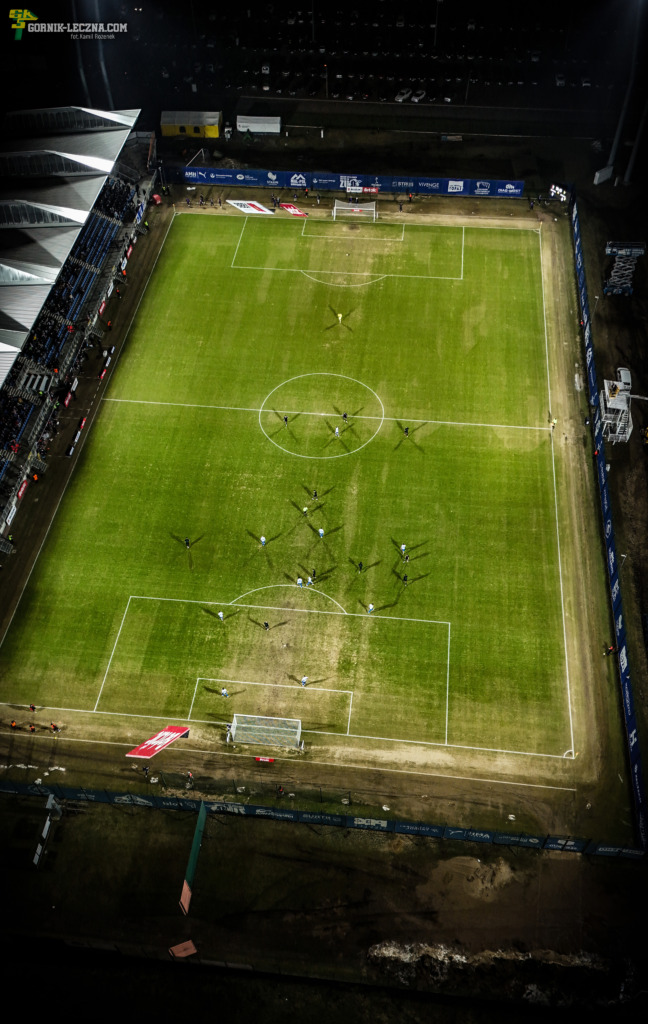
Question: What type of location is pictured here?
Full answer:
This image shows a sports ground.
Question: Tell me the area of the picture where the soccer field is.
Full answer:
The soccer field is located in the center region of the scene.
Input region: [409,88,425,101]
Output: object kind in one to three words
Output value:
vehicle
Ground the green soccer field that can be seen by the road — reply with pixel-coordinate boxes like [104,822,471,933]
[0,212,576,760]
